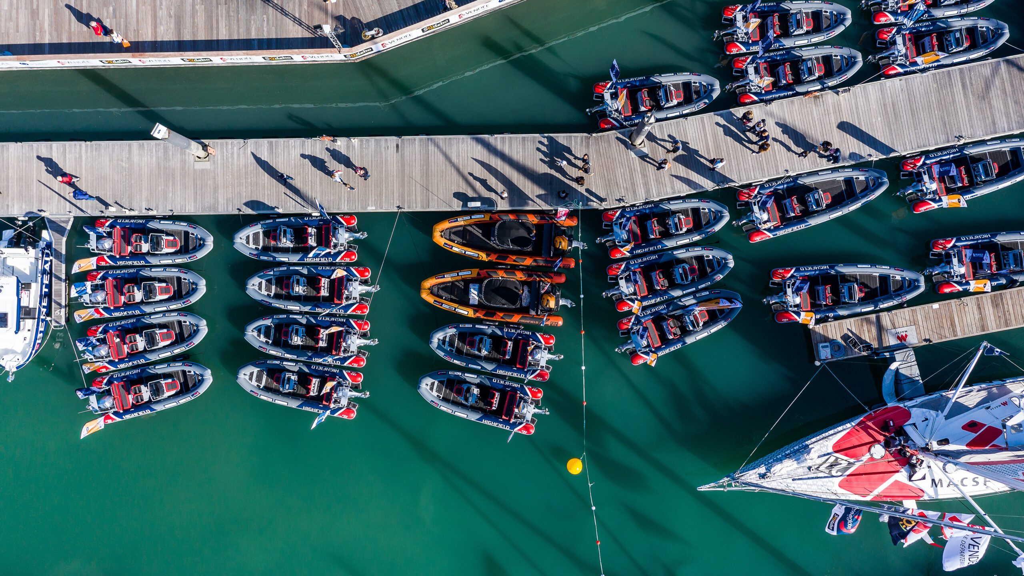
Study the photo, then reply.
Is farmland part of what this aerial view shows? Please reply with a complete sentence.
No, the picture contains no farmland.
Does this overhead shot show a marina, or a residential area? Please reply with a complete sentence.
The area seen from above is a marina.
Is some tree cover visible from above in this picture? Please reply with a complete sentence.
No, tree cover can't be seen anywhere here.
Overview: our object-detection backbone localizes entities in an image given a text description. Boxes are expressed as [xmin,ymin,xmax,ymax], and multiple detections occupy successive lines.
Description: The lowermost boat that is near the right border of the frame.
[698,343,1024,576]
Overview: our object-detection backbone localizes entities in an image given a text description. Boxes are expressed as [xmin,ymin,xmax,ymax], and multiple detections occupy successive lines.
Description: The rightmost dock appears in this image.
[805,286,1024,367]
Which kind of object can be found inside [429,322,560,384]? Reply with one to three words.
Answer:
boat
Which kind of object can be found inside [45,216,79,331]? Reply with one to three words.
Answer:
pier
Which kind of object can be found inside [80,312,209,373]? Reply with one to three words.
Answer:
boat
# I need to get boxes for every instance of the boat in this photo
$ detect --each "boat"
[234,204,365,263]
[698,343,1024,576]
[869,9,1009,76]
[715,0,851,53]
[421,266,572,326]
[733,166,890,240]
[862,0,983,23]
[80,312,209,373]
[433,212,584,270]
[80,361,215,437]
[764,262,925,325]
[588,63,721,129]
[0,215,52,389]
[602,248,736,314]
[247,265,378,316]
[416,371,546,441]
[896,139,1024,211]
[429,322,560,384]
[924,229,1024,293]
[597,198,731,257]
[238,360,368,428]
[615,293,746,366]
[72,218,214,273]
[245,314,376,367]
[726,40,863,103]
[71,267,207,323]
